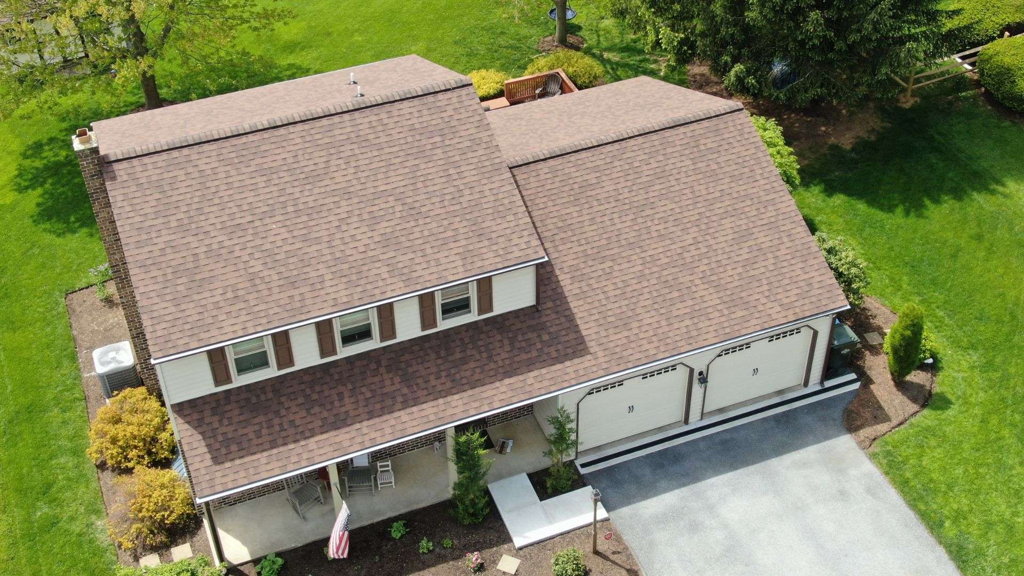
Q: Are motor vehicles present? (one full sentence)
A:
No, no motor vehicle is visible in the view.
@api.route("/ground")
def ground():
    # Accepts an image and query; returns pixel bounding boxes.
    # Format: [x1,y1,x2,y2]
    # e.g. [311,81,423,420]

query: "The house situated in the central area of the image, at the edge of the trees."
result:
[70,54,851,571]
